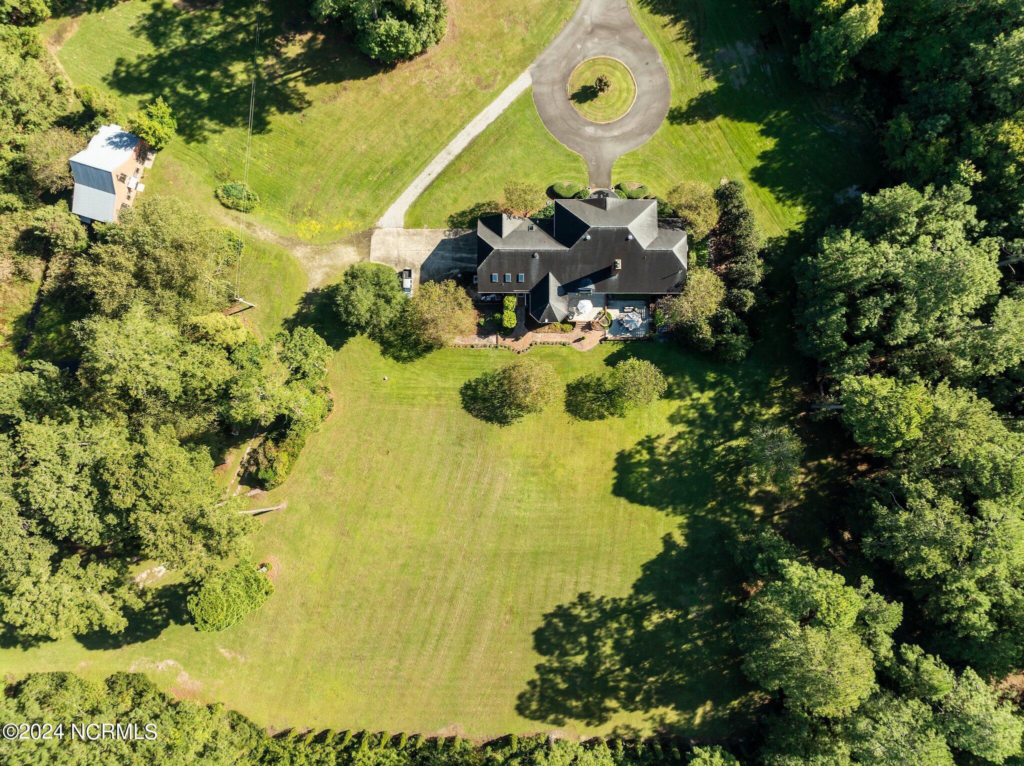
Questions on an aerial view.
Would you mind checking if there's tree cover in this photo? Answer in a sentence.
Yes, tree cover shows up in the scene.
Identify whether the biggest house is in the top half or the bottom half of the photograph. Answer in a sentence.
The top half of the photo is where the biggest house is.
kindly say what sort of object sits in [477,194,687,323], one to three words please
house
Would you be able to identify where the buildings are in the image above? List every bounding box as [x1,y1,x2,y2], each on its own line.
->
[477,194,687,323]
[68,126,164,223]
